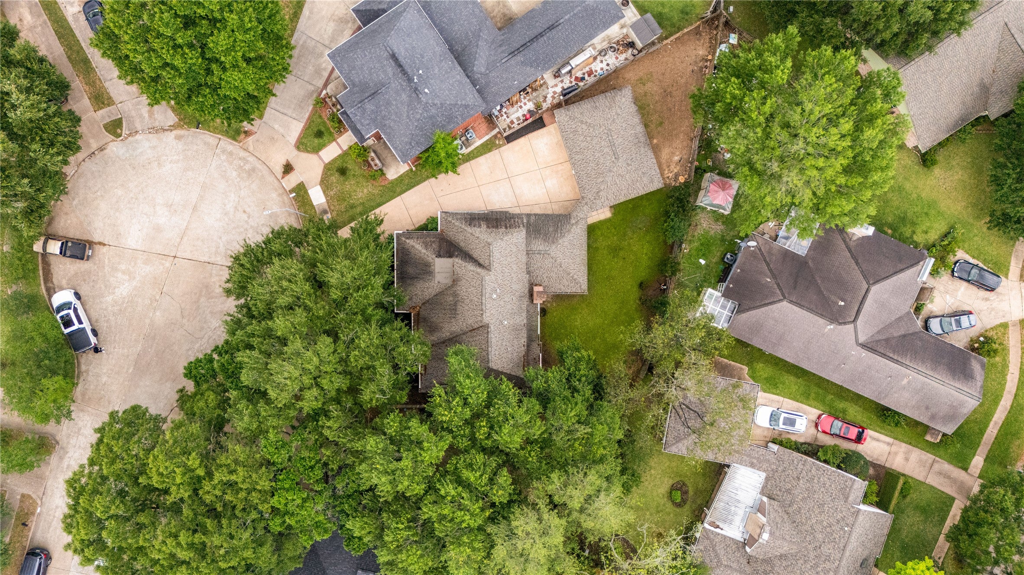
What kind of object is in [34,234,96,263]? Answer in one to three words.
truck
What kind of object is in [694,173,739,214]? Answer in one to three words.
gazebo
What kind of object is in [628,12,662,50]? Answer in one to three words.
shed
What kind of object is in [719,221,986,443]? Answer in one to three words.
house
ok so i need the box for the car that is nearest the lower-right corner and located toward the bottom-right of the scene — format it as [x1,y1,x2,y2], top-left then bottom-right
[813,414,870,445]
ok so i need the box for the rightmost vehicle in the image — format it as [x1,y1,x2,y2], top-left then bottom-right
[923,306,979,335]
